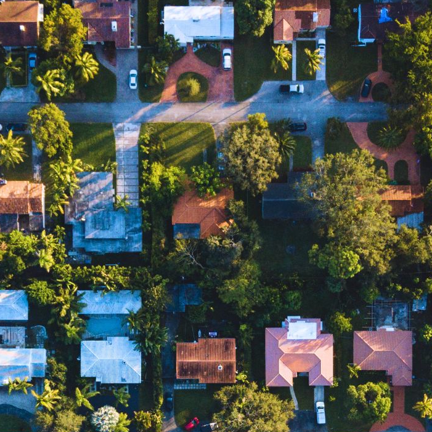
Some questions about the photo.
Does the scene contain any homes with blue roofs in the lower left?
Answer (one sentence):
Yes, the scene does show a home with a blue roof in the lower left.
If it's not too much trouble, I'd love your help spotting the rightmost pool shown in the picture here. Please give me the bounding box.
[83,316,125,335]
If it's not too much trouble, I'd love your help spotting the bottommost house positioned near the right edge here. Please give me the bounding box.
[352,328,412,387]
